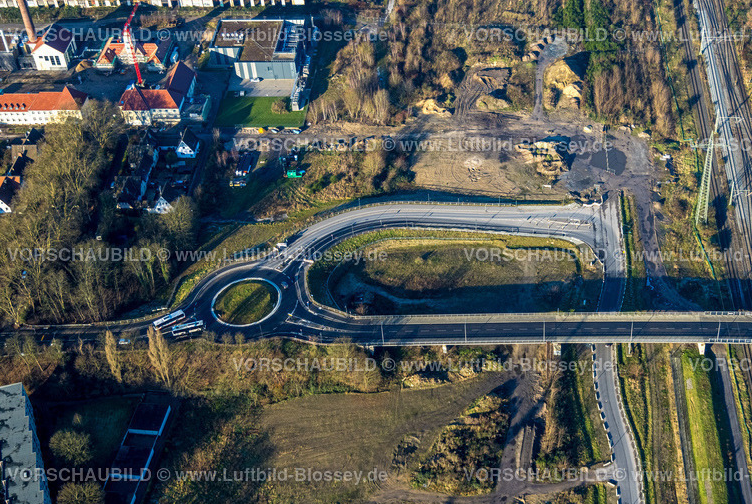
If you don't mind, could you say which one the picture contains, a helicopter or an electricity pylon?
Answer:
electricity pylon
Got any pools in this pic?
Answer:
No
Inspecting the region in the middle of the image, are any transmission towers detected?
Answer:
No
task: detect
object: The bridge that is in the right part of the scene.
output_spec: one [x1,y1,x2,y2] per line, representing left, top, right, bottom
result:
[359,308,752,362]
